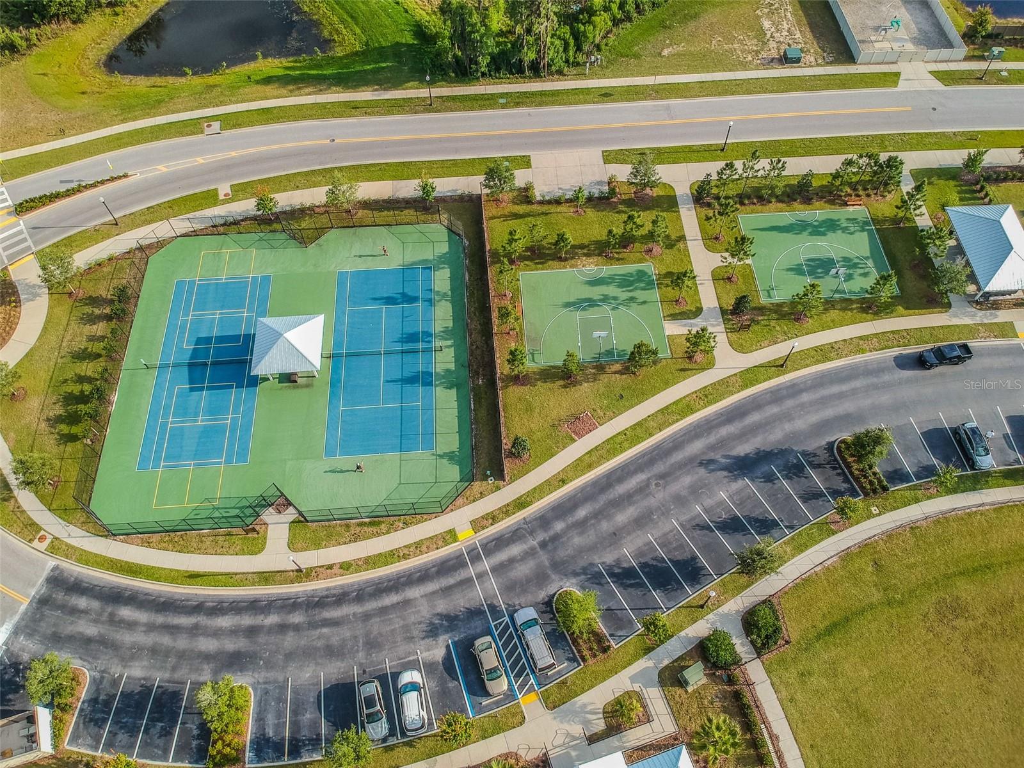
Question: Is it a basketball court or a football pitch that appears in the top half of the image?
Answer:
basketball court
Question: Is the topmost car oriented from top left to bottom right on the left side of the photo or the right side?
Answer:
right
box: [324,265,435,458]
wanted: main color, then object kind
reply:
blue tennis court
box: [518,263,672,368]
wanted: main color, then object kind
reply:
green basketball court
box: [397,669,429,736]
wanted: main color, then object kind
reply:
white car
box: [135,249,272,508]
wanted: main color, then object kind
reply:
blue tennis court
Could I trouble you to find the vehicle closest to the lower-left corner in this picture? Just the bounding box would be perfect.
[359,678,389,742]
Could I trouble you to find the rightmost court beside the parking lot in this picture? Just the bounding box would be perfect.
[737,208,902,303]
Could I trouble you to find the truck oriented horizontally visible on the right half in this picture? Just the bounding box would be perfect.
[920,340,979,369]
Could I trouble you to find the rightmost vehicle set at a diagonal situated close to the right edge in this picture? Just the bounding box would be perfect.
[957,425,995,469]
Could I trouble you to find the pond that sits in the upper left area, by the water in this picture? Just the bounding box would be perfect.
[109,0,327,80]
